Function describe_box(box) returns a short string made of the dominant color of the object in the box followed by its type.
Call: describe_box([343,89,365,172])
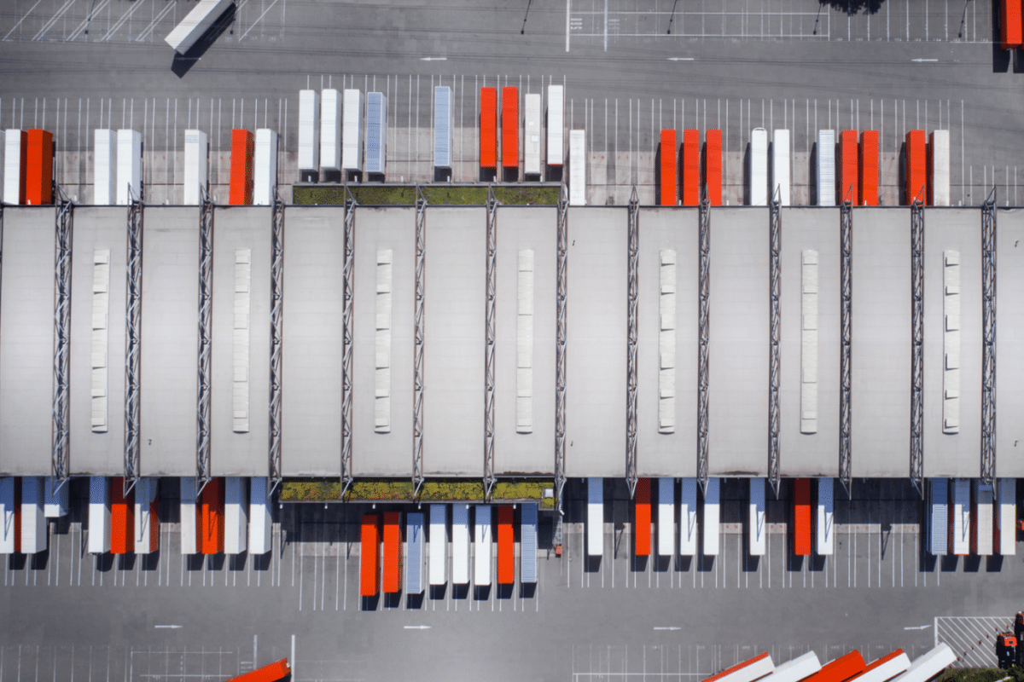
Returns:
white trailer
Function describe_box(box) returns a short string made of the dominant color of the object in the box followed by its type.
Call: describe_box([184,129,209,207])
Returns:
white trailer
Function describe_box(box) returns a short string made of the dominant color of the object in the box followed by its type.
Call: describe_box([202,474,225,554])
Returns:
red trailer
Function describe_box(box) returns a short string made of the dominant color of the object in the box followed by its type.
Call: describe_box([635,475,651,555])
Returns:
red trailer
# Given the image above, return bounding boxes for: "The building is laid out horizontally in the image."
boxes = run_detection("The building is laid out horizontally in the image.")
[0,176,1024,510]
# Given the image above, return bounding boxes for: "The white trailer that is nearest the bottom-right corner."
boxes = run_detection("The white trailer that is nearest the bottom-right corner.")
[884,642,956,682]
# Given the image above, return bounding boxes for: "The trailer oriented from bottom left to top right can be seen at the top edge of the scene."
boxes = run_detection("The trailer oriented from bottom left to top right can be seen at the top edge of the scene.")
[164,0,235,54]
